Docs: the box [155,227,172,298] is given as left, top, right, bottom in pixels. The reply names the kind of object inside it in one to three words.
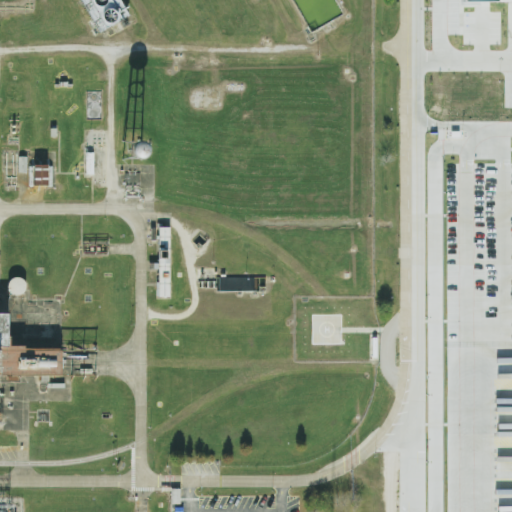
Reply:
building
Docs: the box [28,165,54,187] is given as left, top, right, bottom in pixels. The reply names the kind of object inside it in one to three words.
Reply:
building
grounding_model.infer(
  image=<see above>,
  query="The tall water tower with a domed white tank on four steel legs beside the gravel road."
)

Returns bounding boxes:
[122,139,153,160]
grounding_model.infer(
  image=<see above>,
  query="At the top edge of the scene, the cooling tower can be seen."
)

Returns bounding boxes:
[81,0,122,31]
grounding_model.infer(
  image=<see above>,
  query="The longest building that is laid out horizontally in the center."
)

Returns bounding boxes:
[218,277,259,292]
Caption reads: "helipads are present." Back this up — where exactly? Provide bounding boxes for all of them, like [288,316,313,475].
[312,314,344,346]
